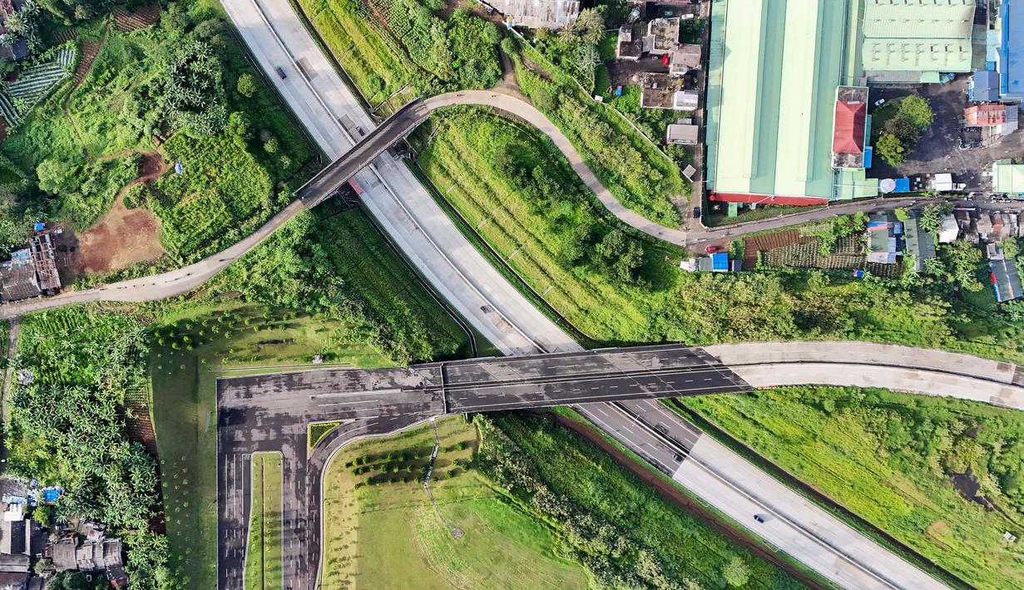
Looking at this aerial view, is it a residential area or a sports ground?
residential area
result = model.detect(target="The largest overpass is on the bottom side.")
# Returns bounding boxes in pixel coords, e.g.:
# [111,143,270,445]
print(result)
[410,343,754,414]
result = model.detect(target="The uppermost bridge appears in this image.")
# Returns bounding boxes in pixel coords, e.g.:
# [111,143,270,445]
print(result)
[293,96,432,207]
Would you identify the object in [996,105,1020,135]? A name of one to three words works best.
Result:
shed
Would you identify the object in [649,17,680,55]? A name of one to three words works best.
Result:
house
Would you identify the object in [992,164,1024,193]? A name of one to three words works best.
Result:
house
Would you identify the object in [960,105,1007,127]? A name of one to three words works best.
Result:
building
